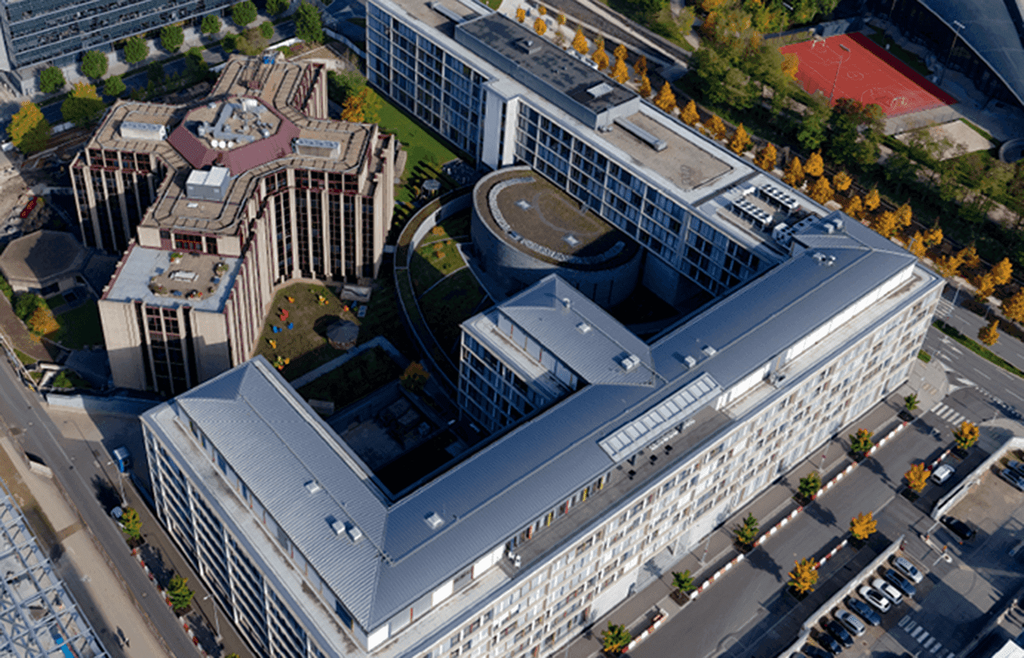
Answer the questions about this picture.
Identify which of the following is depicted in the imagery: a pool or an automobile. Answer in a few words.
automobile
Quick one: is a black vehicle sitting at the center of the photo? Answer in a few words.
No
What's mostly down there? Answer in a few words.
buildings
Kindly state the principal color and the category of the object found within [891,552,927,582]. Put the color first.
gray car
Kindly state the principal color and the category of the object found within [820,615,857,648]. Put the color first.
black car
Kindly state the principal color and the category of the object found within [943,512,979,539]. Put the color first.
black car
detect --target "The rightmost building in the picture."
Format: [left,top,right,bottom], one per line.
[929,0,1024,130]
